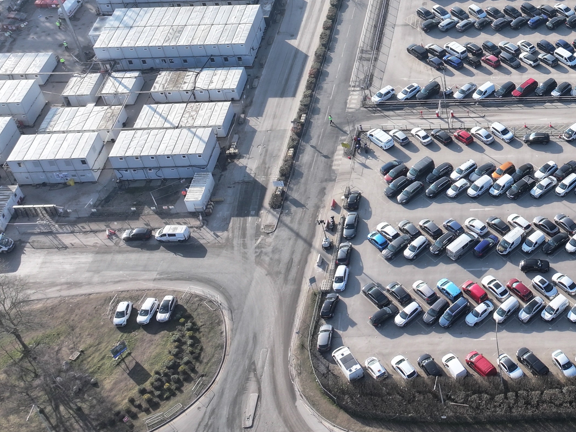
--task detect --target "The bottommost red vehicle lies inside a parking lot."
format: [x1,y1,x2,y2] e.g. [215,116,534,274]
[469,349,495,380]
